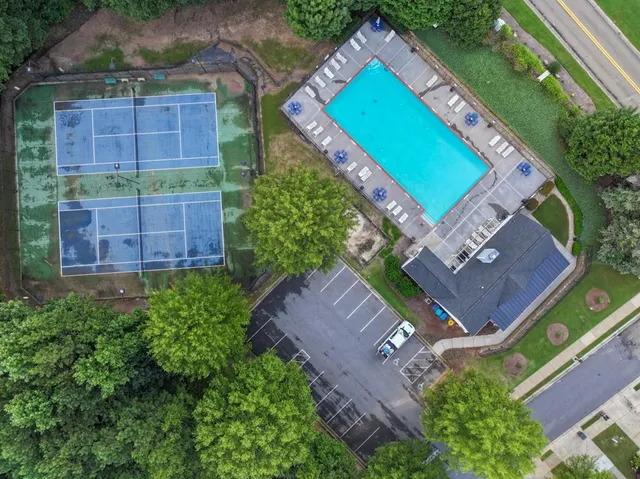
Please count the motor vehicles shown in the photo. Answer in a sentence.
My tally gives 1 motor vehicle in this photo.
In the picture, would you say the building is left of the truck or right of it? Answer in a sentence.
It is on the right side of the truck that the building is positioned.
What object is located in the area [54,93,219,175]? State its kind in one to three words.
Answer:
tennis court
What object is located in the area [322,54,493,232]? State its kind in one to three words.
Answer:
swimming pool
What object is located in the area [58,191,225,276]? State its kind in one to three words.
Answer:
tennis court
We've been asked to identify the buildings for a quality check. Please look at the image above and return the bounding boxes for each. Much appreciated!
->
[401,211,571,338]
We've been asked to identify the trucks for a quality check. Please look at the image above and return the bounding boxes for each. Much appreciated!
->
[378,321,414,360]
